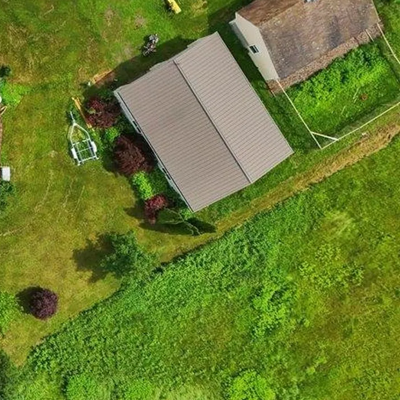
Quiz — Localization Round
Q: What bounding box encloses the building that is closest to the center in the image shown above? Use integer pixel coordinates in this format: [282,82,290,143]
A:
[113,30,293,214]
